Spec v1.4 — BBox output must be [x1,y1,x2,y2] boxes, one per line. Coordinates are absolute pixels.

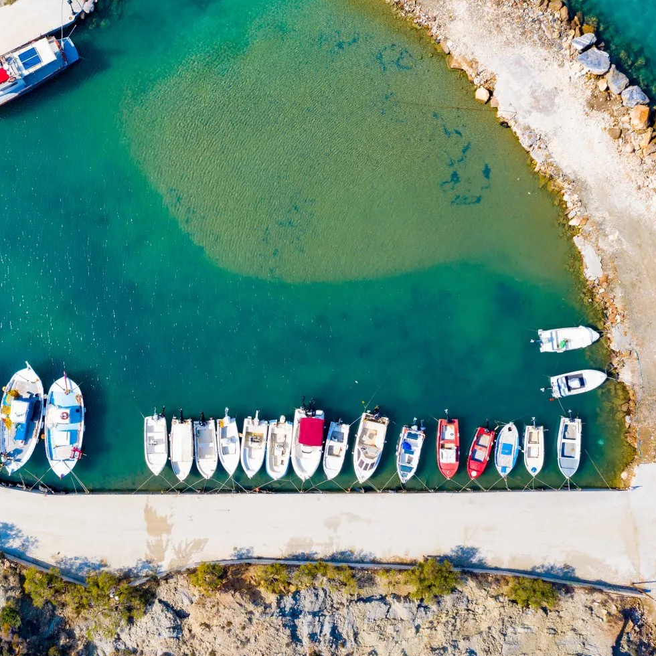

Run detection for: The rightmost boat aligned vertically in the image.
[555,409,582,491]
